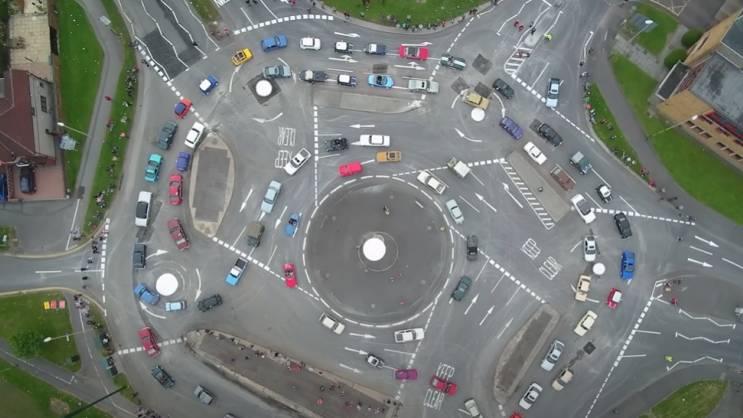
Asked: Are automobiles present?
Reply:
Yes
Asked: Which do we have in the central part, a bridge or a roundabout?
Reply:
roundabout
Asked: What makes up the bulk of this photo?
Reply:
paved ground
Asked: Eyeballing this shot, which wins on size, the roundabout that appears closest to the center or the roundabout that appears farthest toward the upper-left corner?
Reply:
the roundabout that appears closest to the center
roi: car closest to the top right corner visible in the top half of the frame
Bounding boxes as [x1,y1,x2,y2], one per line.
[545,78,560,109]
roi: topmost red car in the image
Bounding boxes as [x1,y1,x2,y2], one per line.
[399,45,429,60]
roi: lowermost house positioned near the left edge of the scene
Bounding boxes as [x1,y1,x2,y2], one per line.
[0,63,55,168]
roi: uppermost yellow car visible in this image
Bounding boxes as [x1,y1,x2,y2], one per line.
[229,48,254,67]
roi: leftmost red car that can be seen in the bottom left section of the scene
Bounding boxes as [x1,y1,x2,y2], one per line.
[139,326,160,358]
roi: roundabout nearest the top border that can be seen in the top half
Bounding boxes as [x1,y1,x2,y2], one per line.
[243,69,282,105]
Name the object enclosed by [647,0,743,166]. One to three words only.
building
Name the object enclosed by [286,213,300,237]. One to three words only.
vehicle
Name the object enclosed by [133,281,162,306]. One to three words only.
car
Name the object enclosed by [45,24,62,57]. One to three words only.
shed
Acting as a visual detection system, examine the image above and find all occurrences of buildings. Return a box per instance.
[647,0,743,166]
[45,24,62,57]
[0,63,55,168]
